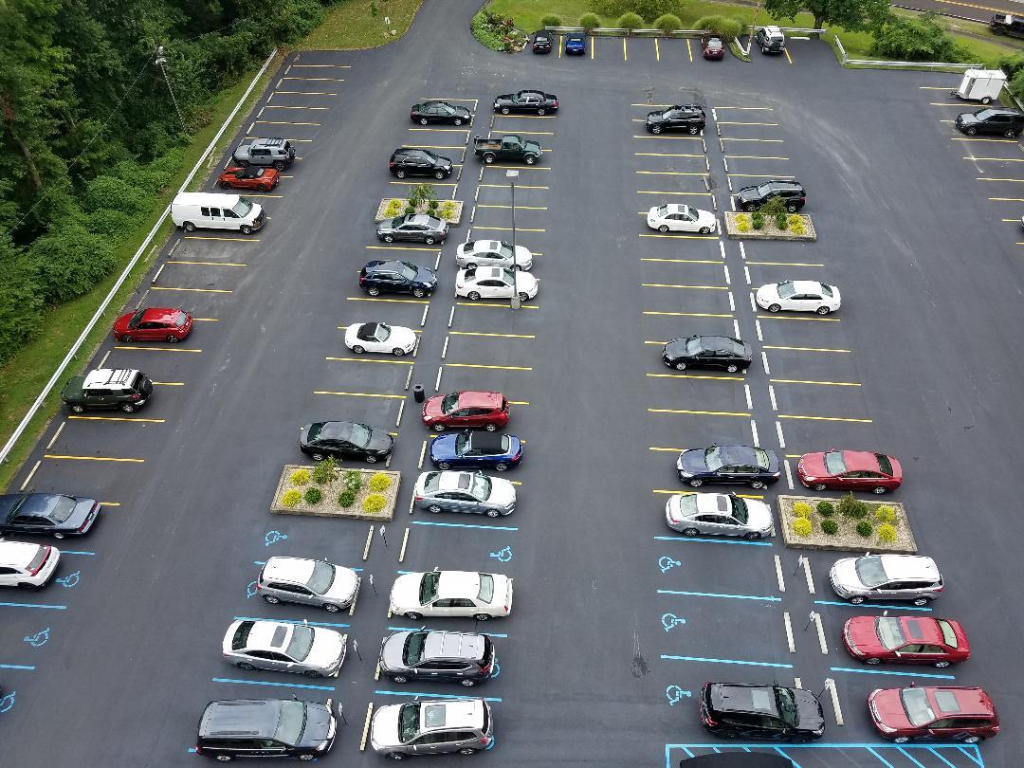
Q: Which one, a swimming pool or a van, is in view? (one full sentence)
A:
I can see a van in this picture.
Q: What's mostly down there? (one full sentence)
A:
The largest share of the image is taken up by paved ground.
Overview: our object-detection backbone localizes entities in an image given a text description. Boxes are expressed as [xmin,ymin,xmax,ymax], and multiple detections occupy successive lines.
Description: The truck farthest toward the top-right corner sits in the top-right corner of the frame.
[989,3,1024,31]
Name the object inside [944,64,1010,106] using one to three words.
trailer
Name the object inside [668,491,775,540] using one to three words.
car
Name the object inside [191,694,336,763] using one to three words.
vehicle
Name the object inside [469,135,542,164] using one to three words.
truck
